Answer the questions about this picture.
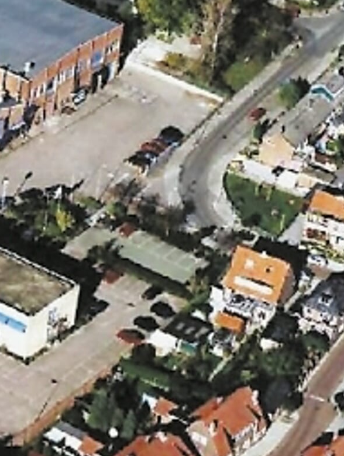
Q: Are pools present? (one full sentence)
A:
No, no pool is visible in the scene.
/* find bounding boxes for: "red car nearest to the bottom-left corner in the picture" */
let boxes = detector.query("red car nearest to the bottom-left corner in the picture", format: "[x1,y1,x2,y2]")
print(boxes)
[116,327,145,345]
